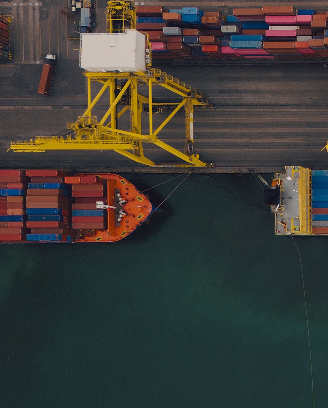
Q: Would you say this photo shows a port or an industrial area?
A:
port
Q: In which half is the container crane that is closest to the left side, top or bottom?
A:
top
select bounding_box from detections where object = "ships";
[0,173,165,244]
[265,168,328,237]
